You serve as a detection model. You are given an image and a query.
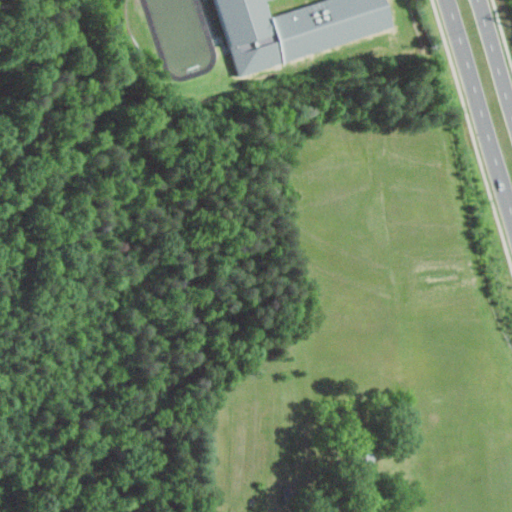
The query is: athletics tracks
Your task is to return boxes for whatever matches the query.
[142,0,216,82]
